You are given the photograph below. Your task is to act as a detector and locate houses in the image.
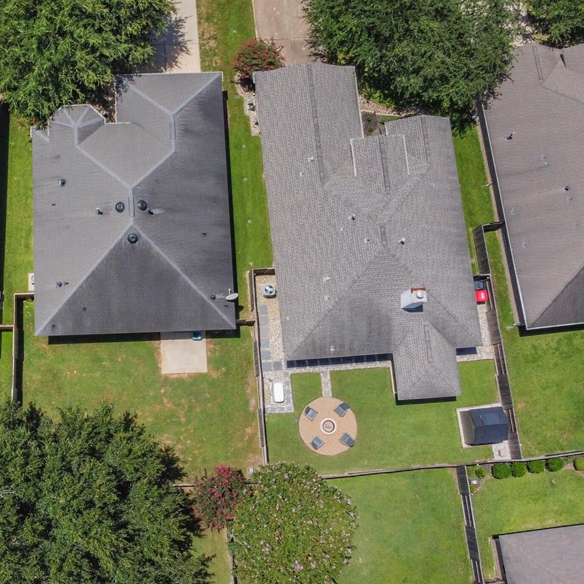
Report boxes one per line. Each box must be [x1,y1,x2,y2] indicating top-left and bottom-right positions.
[470,43,584,331]
[31,71,237,337]
[253,63,483,402]
[485,523,584,584]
